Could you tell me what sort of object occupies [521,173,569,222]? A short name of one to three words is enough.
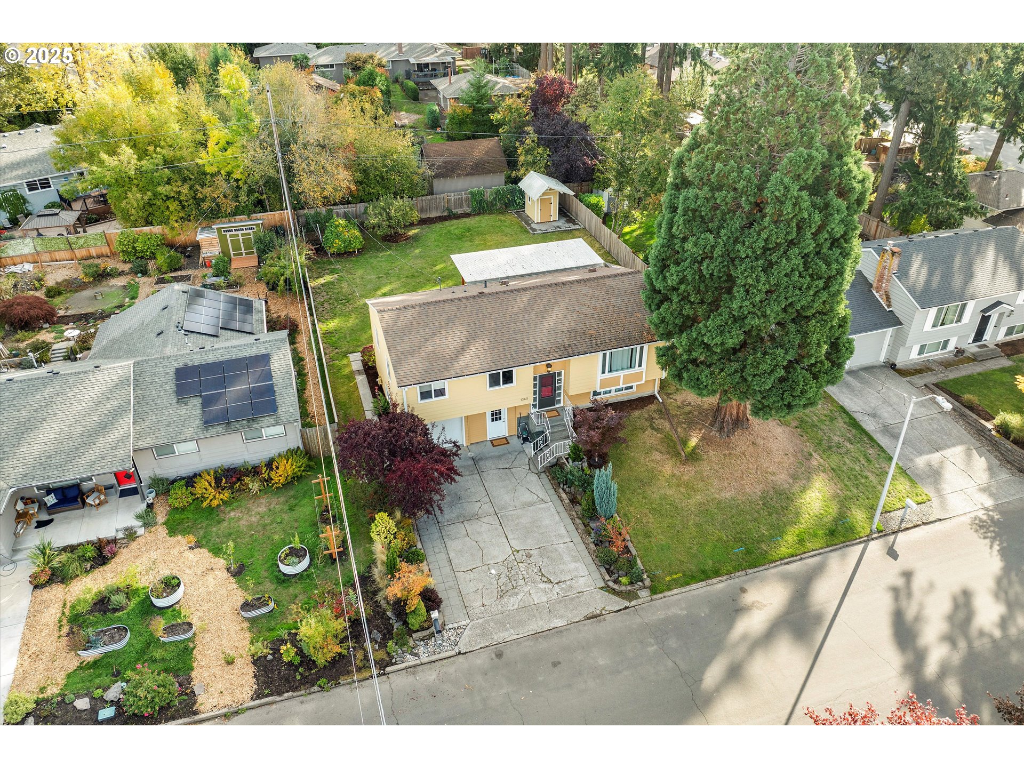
shed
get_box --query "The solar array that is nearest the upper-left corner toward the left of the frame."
[184,290,254,335]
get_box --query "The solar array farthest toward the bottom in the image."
[176,352,276,424]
